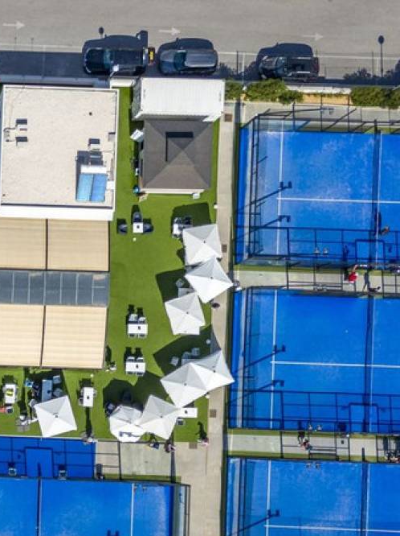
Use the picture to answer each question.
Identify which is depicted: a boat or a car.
car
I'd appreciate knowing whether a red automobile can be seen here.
No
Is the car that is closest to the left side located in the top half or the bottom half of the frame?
top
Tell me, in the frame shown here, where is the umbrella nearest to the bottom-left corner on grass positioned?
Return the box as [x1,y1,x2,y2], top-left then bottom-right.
[32,394,75,437]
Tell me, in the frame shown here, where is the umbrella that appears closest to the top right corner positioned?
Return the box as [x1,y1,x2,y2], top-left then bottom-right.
[181,222,221,262]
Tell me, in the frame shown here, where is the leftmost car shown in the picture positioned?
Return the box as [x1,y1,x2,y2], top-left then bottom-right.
[82,42,155,76]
